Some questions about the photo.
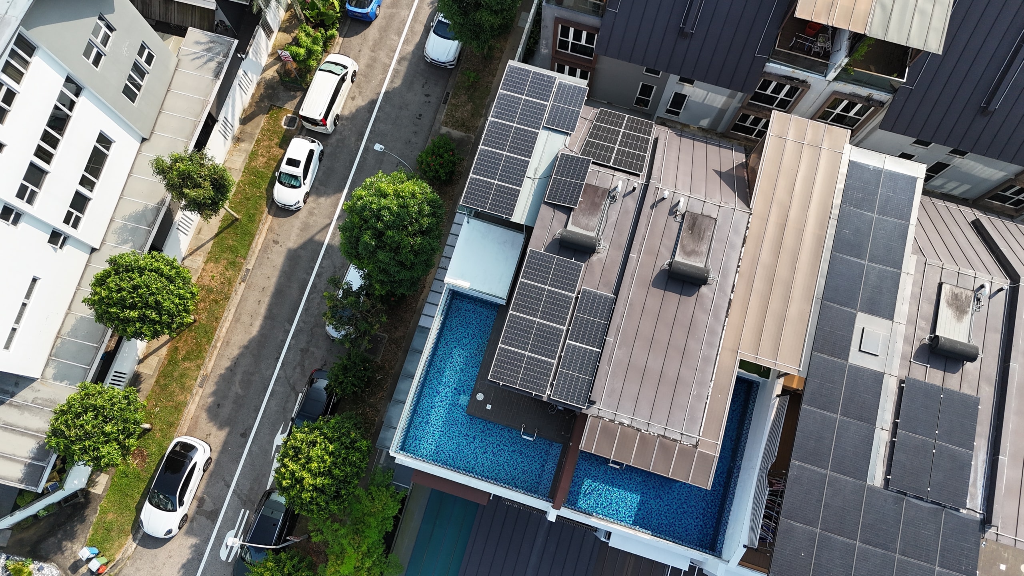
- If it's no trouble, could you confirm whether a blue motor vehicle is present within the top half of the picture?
Yes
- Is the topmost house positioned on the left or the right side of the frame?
left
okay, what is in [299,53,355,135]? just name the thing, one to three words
car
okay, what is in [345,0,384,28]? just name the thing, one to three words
car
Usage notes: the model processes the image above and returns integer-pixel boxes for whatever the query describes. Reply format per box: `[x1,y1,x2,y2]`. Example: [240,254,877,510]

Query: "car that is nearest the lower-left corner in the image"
[143,436,211,539]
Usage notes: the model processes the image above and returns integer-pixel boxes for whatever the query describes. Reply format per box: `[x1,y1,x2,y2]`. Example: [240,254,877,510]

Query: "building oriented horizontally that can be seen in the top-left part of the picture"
[130,0,243,59]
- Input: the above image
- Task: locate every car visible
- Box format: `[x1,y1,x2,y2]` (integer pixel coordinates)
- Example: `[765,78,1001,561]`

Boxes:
[294,369,344,423]
[425,28,463,72]
[345,0,384,28]
[237,483,296,576]
[299,53,355,135]
[272,132,325,211]
[143,436,211,539]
